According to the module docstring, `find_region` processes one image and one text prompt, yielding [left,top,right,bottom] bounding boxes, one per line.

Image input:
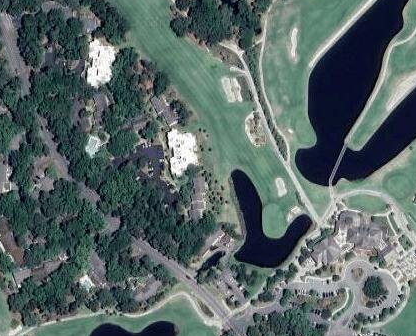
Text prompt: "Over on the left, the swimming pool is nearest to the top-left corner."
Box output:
[84,135,102,155]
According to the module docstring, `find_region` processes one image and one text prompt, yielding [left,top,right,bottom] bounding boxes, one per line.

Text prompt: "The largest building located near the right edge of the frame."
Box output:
[333,208,397,257]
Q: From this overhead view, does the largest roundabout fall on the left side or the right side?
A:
right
